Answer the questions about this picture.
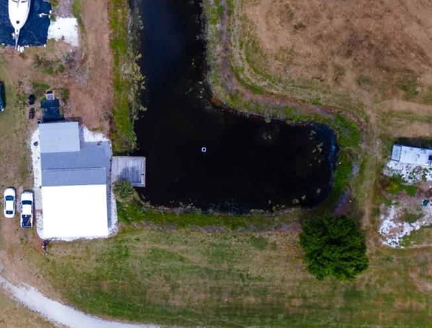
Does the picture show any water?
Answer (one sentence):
Yes, the picture does contain water.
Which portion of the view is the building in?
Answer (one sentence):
The building is in the left part of the image.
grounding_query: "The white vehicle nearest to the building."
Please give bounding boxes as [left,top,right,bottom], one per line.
[19,190,35,229]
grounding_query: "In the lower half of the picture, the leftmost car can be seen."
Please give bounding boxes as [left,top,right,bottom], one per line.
[2,187,16,219]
